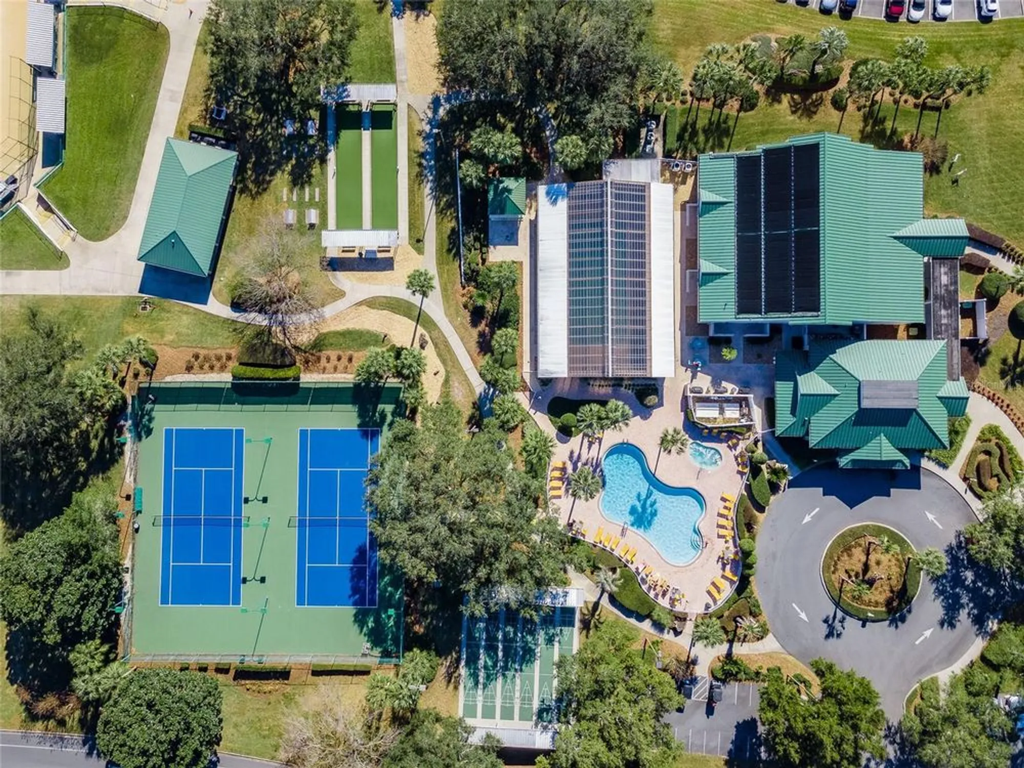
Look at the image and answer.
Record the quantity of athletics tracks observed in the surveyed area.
0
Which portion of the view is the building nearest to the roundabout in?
right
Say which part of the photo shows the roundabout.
bottom right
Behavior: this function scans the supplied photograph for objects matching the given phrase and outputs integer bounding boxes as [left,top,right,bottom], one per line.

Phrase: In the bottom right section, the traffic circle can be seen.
[757,460,984,768]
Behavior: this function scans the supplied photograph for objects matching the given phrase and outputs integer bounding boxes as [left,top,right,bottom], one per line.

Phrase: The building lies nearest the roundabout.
[769,339,969,468]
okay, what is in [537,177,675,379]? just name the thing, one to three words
building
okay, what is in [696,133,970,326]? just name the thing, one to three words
building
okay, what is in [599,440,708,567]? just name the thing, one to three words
swimming pool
